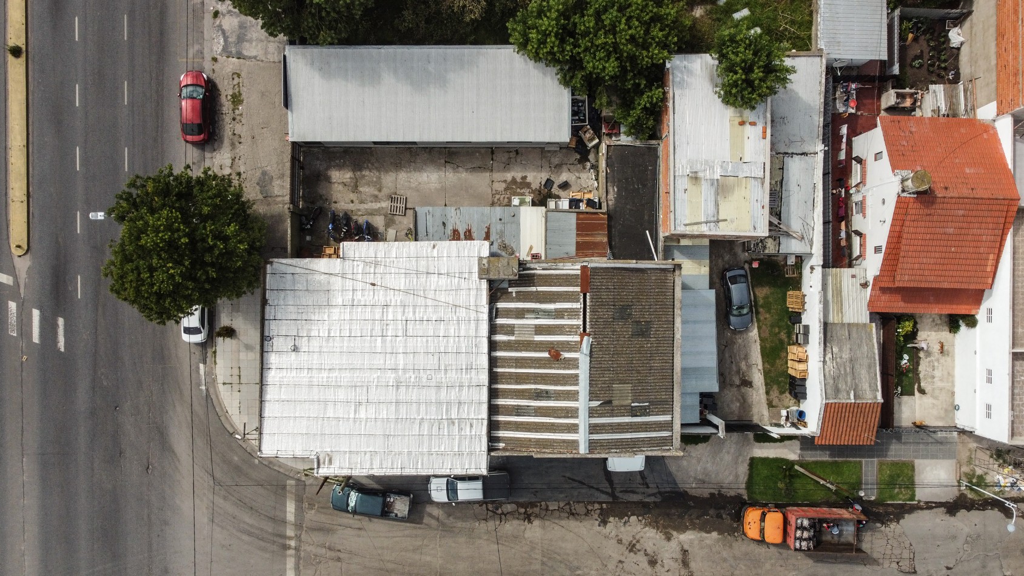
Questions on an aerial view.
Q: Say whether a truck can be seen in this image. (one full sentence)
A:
Yes, I can see a truck in this picture.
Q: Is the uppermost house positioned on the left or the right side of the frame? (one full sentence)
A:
The uppermost house is on the right side of the image.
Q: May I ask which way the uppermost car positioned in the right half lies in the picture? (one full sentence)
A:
In this picture, the uppermost car positioned in the right half is oriented from top to bottom.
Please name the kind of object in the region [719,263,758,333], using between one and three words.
car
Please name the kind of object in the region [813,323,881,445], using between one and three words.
building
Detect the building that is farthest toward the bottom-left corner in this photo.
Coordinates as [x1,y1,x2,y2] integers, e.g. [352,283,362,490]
[257,242,490,476]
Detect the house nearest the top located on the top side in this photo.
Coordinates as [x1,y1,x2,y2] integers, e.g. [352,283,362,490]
[803,0,887,72]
